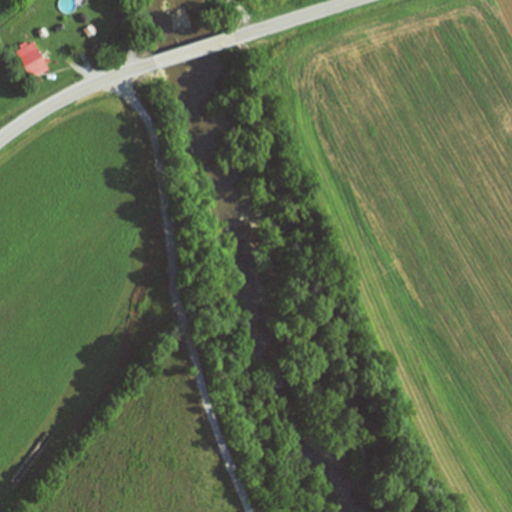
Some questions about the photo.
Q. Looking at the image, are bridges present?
Yes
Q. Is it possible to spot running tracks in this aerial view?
No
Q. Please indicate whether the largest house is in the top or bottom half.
top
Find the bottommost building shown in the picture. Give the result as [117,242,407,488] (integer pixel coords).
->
[16,42,50,77]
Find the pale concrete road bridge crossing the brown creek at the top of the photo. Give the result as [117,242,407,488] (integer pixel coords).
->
[150,32,236,70]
